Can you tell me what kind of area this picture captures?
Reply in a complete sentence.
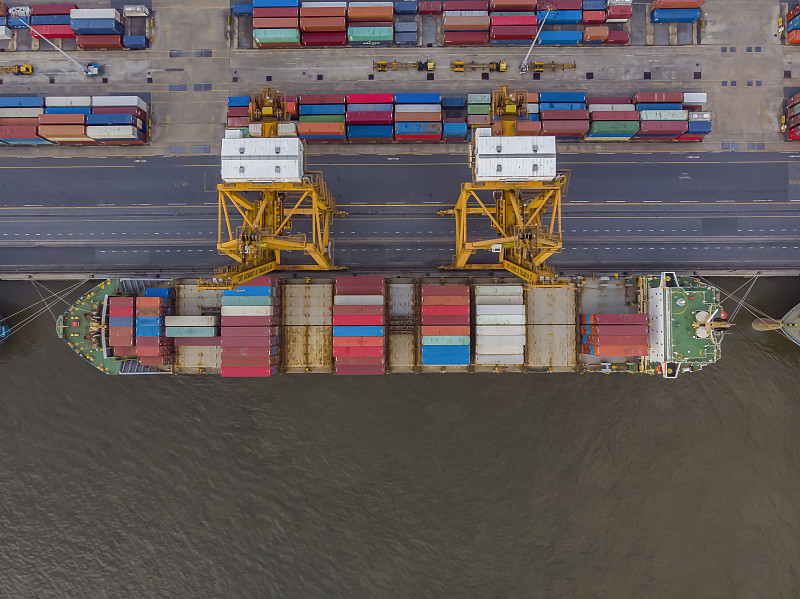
The picture captures a port.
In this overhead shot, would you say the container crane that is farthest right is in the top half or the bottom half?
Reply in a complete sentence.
The container crane that is farthest right sits in the top half of the picture.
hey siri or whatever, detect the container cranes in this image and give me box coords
[438,87,576,291]
[190,88,343,292]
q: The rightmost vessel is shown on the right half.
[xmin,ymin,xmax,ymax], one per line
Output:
[752,298,800,341]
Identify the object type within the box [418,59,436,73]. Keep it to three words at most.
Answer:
vehicle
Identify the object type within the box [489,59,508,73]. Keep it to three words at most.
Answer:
vehicle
